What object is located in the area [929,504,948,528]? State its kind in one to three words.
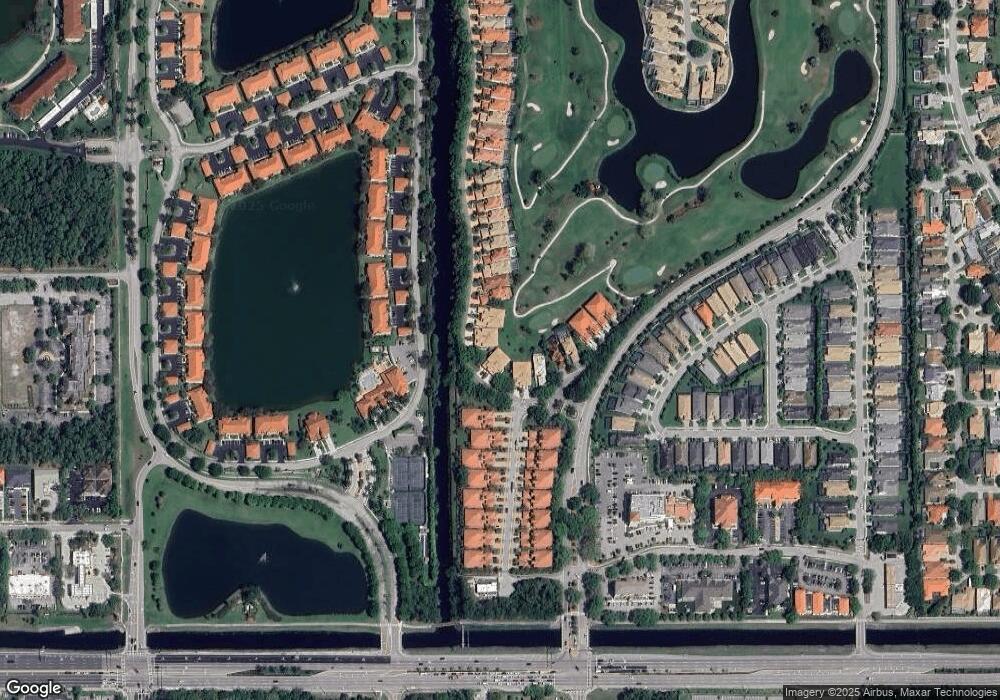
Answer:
house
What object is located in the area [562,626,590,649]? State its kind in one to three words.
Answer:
bridge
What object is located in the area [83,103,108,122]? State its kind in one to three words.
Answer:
swimming pool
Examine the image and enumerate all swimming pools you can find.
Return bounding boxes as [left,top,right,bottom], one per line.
[83,103,108,122]
[358,371,378,391]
